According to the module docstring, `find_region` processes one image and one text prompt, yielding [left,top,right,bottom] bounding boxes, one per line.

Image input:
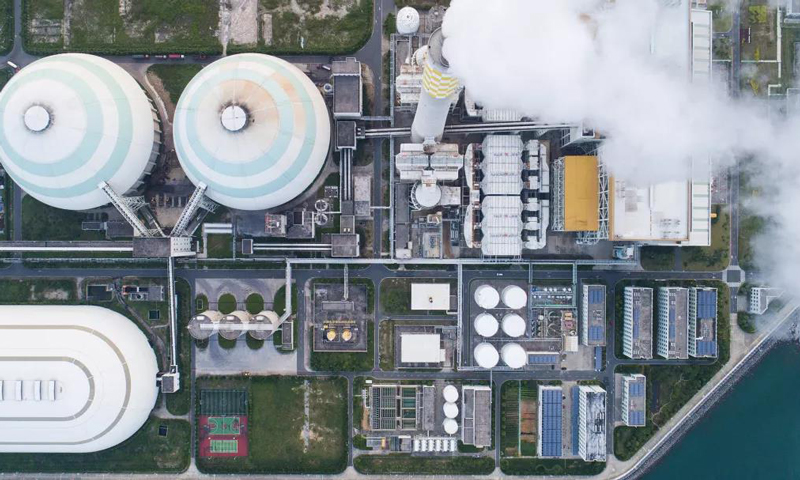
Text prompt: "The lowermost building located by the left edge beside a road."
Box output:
[0,304,162,453]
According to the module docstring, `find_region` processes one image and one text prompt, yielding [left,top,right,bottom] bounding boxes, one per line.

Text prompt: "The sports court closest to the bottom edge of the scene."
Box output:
[199,438,248,457]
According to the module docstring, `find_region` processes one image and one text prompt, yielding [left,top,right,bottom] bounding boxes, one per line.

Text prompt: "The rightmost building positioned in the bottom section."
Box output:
[750,286,787,314]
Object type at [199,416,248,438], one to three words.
basketball court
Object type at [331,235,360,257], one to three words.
house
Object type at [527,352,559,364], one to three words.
building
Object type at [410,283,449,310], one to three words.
building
